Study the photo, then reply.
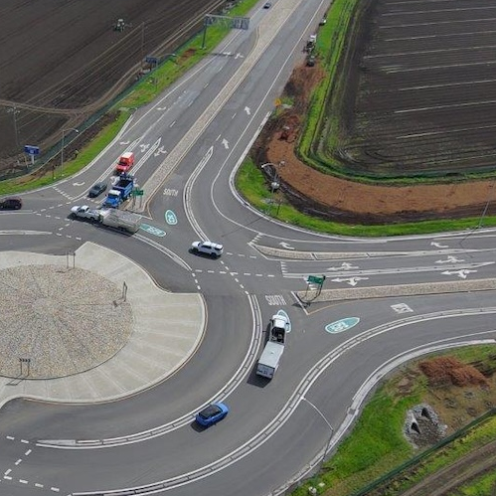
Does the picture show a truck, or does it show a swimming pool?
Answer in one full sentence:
It is a truck that can be seen here.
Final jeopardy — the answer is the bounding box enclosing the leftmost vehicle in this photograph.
[0,195,22,210]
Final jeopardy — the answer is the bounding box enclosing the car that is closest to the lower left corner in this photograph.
[194,401,231,428]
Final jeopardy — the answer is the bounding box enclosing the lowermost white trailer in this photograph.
[258,336,286,373]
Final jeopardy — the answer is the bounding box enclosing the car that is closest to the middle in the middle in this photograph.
[189,240,226,260]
